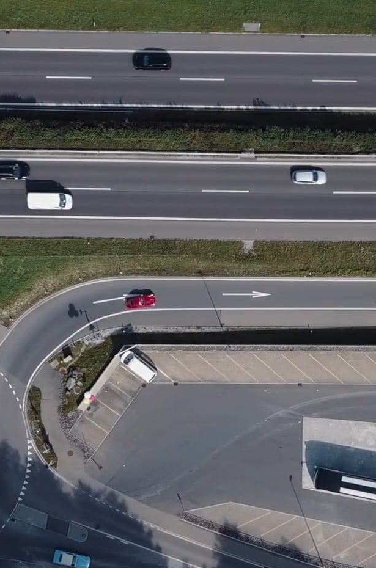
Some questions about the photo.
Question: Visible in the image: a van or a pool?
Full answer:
The one in the frame is a van.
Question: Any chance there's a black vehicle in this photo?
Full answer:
Yes, a black vehicle can be made out from above.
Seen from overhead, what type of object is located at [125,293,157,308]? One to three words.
car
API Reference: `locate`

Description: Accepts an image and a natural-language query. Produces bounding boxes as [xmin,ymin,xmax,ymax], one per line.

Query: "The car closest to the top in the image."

[134,52,171,70]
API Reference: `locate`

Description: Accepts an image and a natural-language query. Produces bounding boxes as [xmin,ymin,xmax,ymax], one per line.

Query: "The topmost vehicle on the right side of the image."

[292,168,327,184]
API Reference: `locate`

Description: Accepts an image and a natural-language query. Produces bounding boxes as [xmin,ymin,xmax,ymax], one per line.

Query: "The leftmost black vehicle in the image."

[0,163,30,180]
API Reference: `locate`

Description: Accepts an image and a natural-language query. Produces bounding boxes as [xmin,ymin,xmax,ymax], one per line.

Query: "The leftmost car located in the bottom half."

[53,550,91,568]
